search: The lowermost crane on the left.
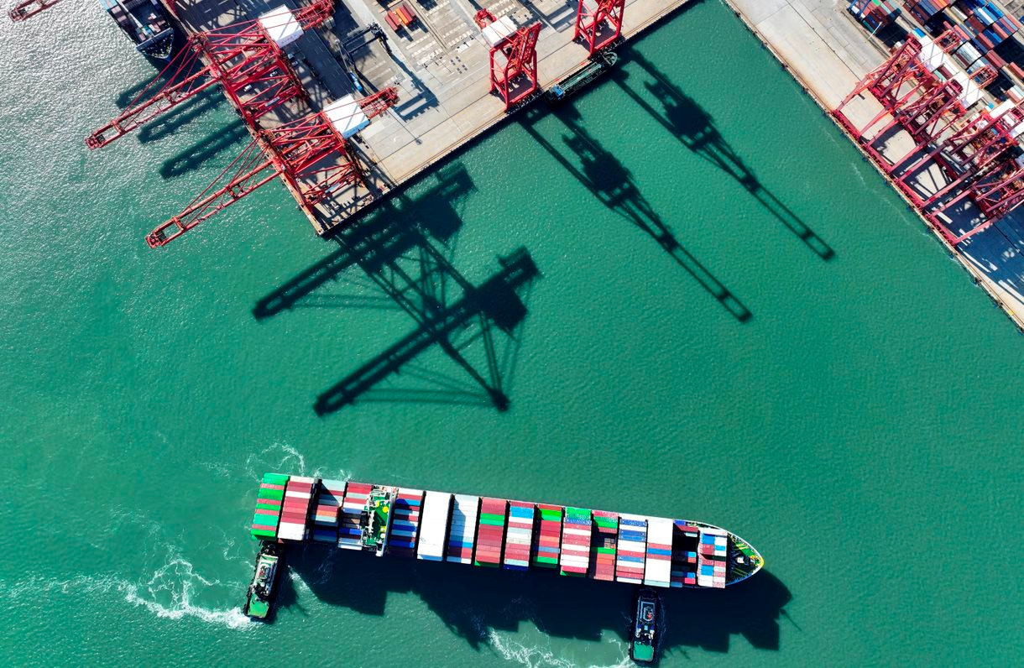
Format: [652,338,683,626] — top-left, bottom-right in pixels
[139,80,405,254]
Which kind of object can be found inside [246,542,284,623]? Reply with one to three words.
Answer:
boat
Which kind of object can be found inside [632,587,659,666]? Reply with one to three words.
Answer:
boat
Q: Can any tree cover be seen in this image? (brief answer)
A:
No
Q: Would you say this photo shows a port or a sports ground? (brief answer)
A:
port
